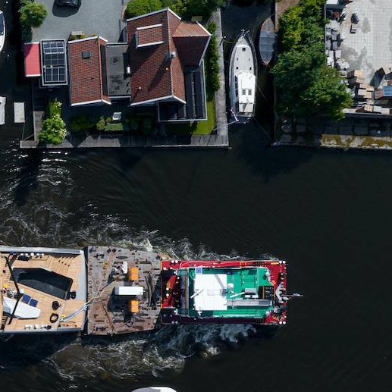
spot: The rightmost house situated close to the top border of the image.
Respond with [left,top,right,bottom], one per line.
[120,8,212,125]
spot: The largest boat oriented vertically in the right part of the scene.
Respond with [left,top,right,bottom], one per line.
[232,28,263,125]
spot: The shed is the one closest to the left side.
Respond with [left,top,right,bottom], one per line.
[22,41,41,81]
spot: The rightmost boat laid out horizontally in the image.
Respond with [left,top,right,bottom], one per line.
[155,259,302,325]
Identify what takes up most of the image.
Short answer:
water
